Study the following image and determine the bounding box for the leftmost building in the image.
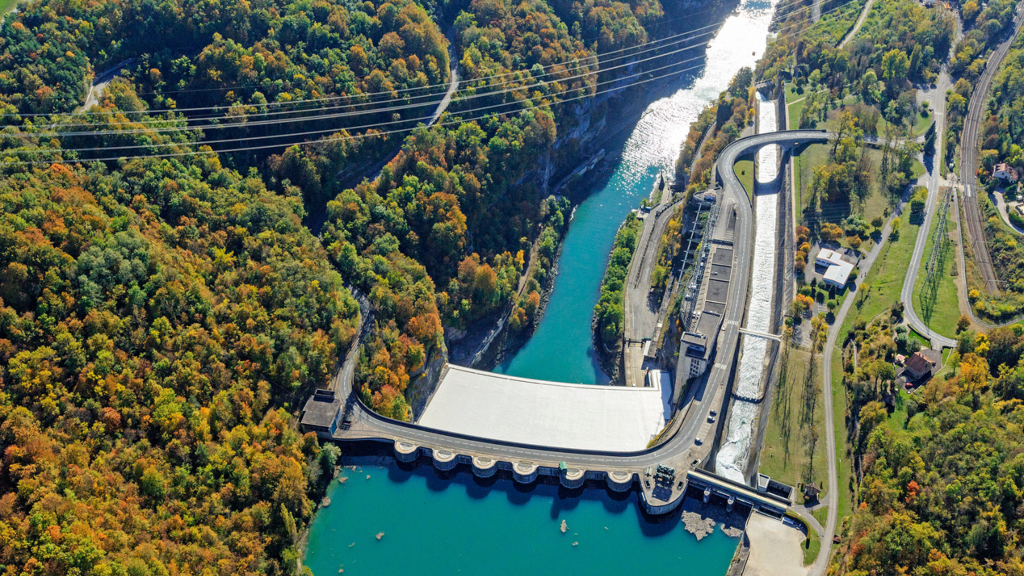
[301,389,341,443]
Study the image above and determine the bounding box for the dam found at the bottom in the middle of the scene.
[334,383,707,516]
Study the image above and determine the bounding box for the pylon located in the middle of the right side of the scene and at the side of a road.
[919,184,971,301]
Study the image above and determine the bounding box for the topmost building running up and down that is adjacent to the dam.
[679,239,734,375]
